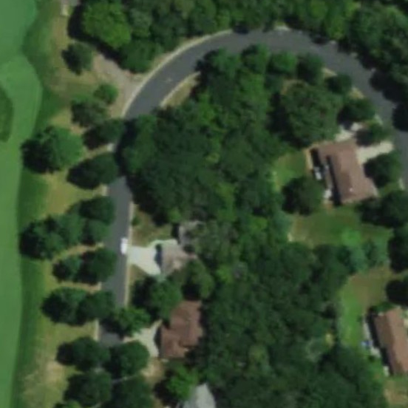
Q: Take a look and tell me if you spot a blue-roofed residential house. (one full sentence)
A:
No, there is no blue-roofed residential house in the image.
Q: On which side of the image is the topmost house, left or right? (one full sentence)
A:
The topmost house sits on the right side.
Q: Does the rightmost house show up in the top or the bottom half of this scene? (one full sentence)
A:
Seen from above, the rightmost house lies in the bottom half of the view.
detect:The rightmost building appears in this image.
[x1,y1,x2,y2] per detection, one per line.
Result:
[373,305,408,377]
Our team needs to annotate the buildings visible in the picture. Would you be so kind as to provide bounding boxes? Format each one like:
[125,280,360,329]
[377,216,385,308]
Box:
[160,302,203,359]
[316,139,378,206]
[373,305,408,377]
[178,383,222,408]
[161,223,191,270]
